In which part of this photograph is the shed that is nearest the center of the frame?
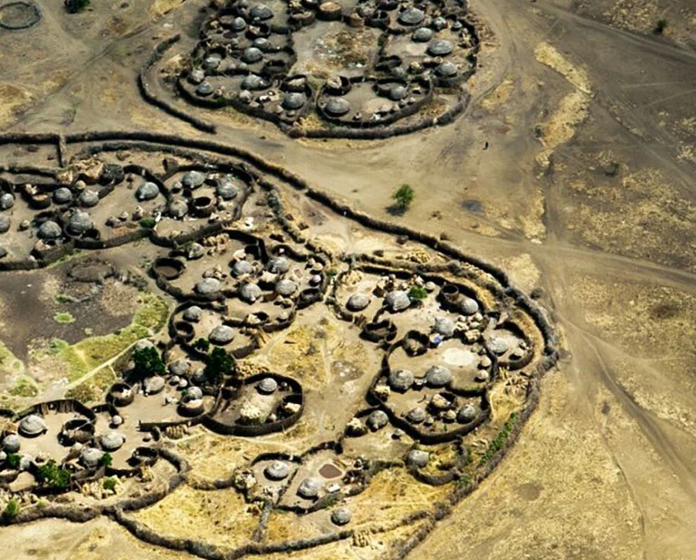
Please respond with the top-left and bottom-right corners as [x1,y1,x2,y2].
[346,296,371,315]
